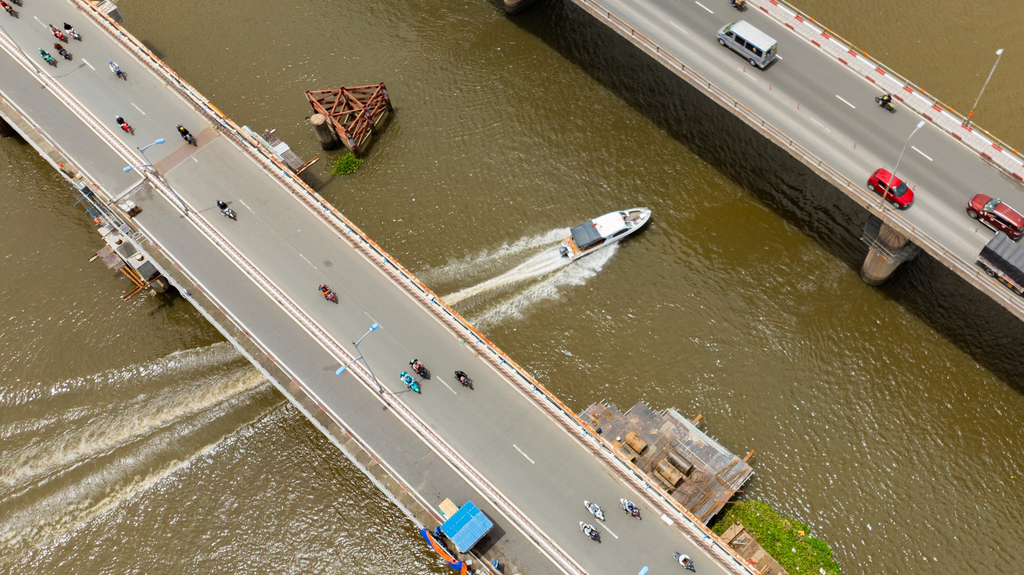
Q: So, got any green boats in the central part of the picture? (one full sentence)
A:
No, no green boat can be made out in the central part of the picture.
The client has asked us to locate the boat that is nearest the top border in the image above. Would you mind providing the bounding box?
[560,206,649,262]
